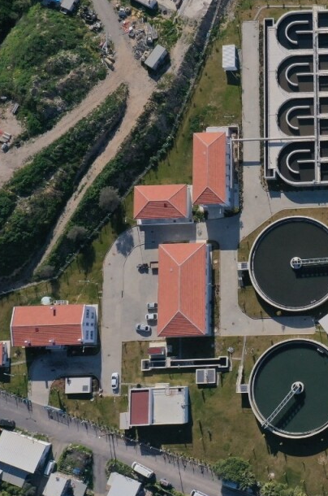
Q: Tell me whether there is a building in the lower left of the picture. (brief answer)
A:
Yes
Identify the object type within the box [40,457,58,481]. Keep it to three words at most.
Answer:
vehicle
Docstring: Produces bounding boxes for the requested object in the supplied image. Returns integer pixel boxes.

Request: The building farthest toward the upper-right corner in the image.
[193,127,243,208]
